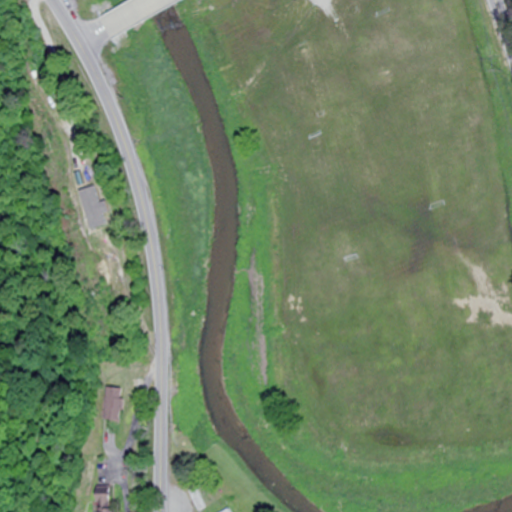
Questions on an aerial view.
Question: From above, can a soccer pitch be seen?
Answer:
Yes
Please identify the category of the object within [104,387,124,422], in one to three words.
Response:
house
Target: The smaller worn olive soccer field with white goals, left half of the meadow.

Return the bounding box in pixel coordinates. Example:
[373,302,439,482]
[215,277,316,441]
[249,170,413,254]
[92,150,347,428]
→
[282,125,384,266]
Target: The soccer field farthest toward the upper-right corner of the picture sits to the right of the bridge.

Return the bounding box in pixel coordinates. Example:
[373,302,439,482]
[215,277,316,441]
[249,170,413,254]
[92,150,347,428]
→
[330,0,487,218]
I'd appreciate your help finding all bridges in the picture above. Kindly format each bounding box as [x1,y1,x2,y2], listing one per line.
[96,0,176,38]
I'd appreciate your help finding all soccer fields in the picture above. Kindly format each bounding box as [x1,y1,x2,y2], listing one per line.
[282,125,384,266]
[330,0,487,218]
